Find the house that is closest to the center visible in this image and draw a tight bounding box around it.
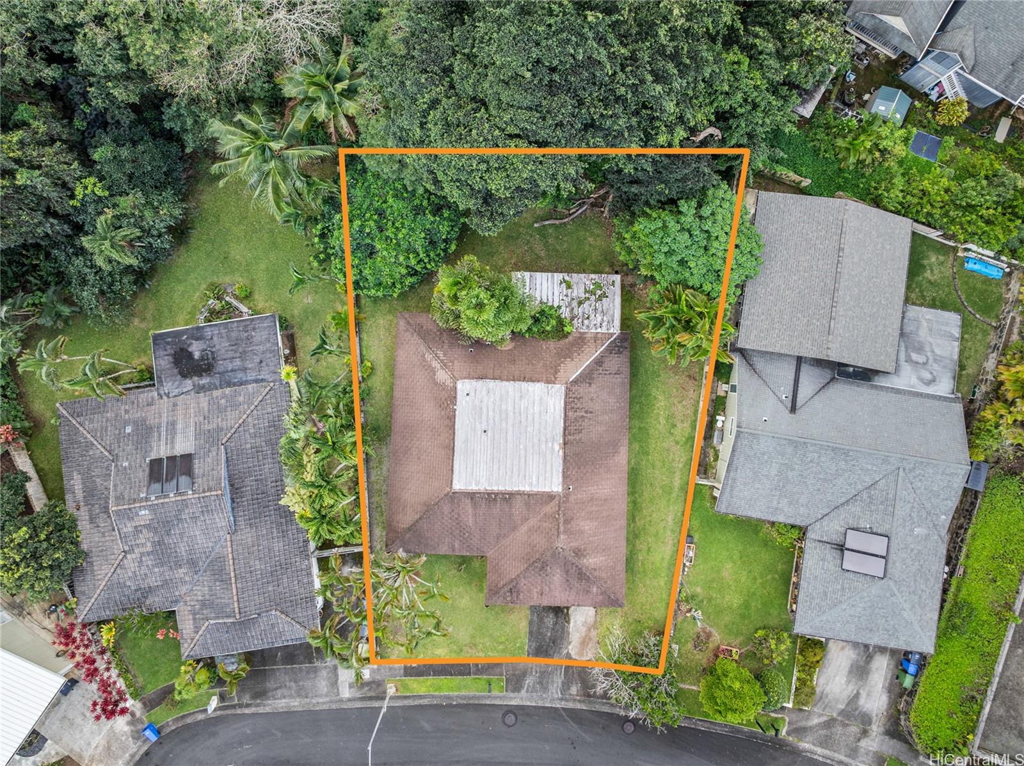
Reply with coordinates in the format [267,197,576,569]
[385,311,631,608]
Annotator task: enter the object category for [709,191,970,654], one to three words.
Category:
house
